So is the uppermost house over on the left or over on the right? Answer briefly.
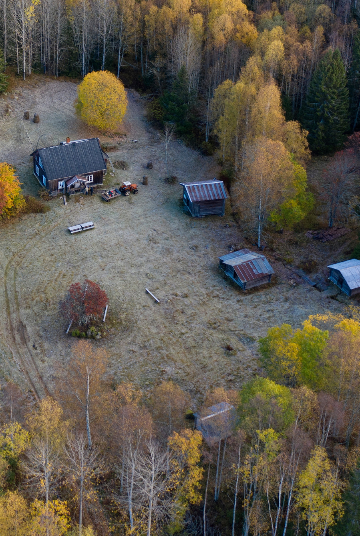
left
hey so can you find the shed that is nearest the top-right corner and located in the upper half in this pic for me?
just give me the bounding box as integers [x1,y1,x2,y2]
[184,179,227,216]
